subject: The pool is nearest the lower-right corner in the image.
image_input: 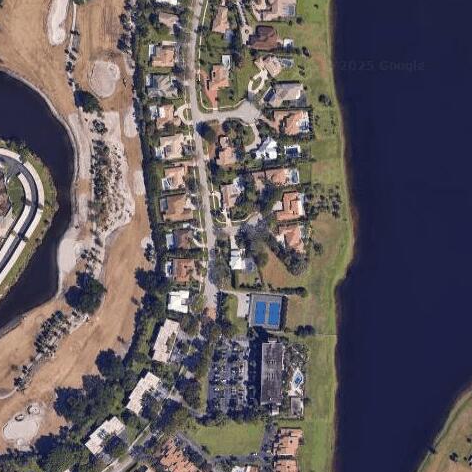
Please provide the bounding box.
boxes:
[289,367,304,396]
